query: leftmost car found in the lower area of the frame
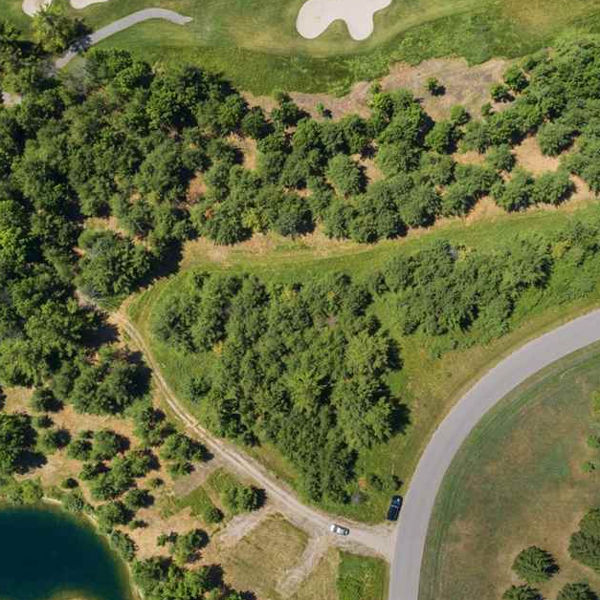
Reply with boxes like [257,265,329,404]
[330,522,349,535]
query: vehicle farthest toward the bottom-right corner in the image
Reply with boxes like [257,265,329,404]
[386,494,403,522]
